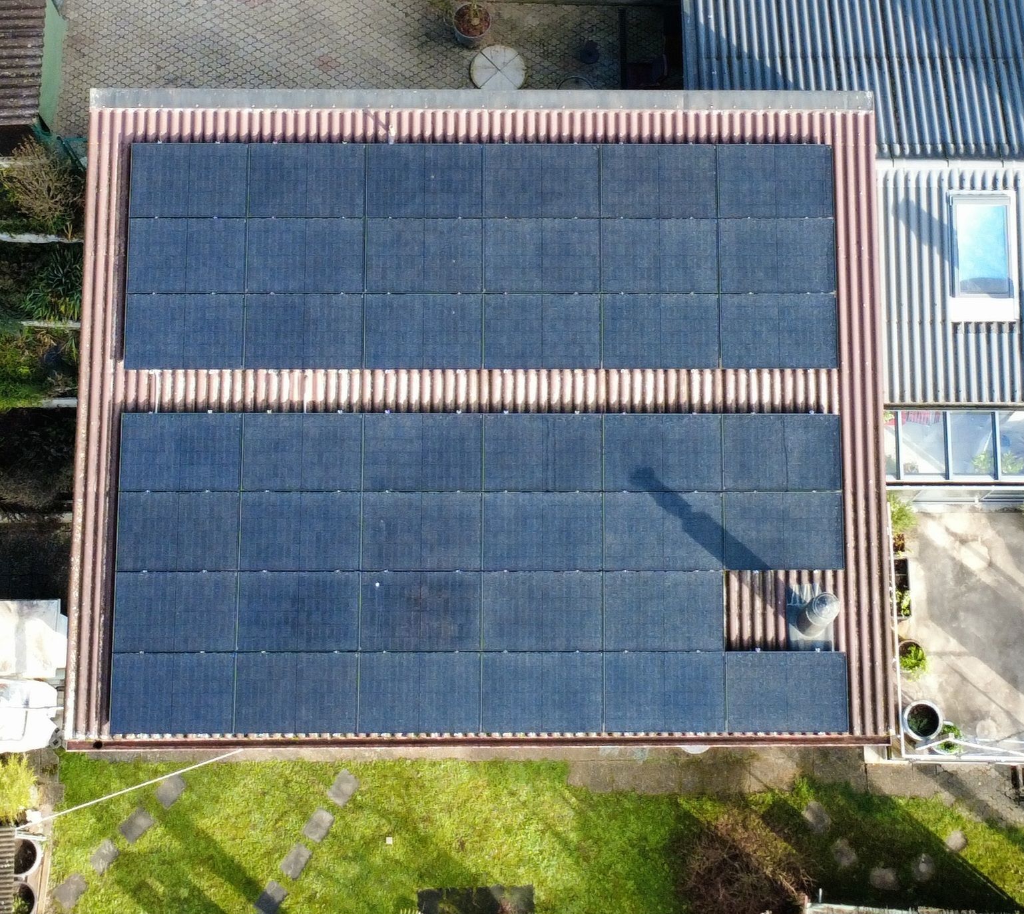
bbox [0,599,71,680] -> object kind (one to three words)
greenhouse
